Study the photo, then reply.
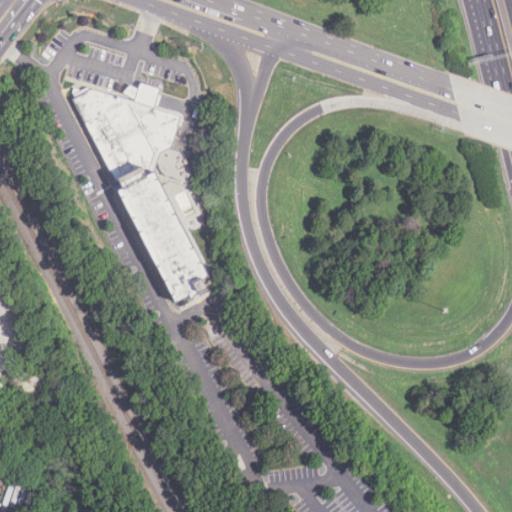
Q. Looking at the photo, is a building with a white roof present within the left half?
Yes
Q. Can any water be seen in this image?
No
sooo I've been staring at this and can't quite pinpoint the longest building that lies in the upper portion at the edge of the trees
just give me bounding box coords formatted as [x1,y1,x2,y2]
[72,82,208,302]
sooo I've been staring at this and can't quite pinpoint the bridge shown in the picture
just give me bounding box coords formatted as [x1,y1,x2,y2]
[449,72,512,150]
